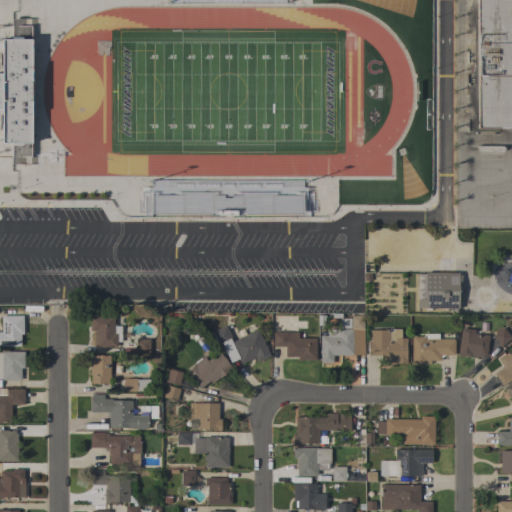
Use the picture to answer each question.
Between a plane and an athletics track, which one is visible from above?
athletics track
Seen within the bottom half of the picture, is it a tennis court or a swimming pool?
swimming pool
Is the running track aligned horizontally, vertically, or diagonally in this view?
horizontally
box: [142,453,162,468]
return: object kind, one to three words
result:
swimming pool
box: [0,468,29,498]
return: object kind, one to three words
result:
house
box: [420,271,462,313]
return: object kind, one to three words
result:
building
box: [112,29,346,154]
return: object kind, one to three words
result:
sports field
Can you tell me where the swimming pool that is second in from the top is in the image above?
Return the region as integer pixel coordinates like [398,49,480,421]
[126,362,153,378]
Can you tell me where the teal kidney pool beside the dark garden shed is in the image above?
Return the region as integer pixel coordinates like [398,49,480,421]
[122,319,158,347]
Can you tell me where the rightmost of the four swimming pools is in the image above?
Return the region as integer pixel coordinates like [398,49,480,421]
[182,485,207,505]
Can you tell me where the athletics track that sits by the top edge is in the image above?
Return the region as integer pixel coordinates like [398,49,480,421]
[42,6,418,178]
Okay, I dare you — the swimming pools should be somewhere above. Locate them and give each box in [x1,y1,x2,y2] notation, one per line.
[126,362,153,378]
[182,485,207,505]
[142,453,162,468]
[122,319,158,347]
